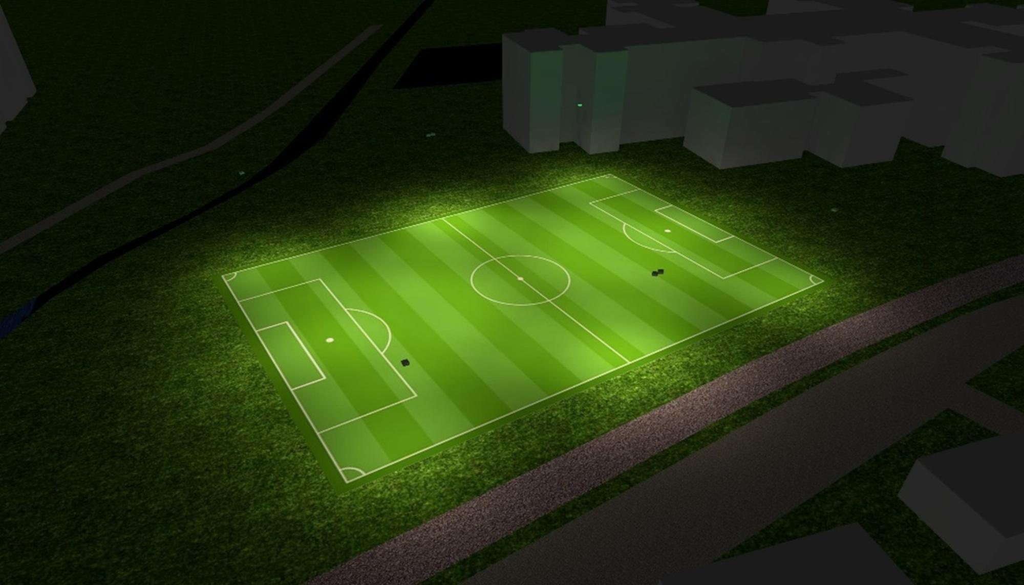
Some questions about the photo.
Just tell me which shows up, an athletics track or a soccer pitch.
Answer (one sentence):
The one in the frame is a soccer pitch.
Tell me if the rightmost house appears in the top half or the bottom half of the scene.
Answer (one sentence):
The bottom half of the photo is where the rightmost house is.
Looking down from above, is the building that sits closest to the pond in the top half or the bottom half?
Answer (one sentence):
The building that sits closest to the pond sits in the top half of the picture.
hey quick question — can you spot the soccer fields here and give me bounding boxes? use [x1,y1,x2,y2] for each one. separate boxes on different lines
[212,172,834,495]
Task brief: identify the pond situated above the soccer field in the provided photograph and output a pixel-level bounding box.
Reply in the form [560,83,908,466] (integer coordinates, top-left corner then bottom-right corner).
[393,43,503,89]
